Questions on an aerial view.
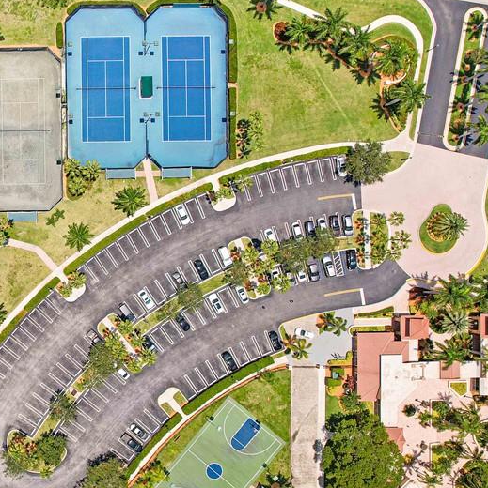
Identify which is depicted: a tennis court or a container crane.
tennis court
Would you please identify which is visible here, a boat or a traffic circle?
traffic circle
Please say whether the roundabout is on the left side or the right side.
right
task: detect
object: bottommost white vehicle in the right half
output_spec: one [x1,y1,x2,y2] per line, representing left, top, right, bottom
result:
[291,326,317,341]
